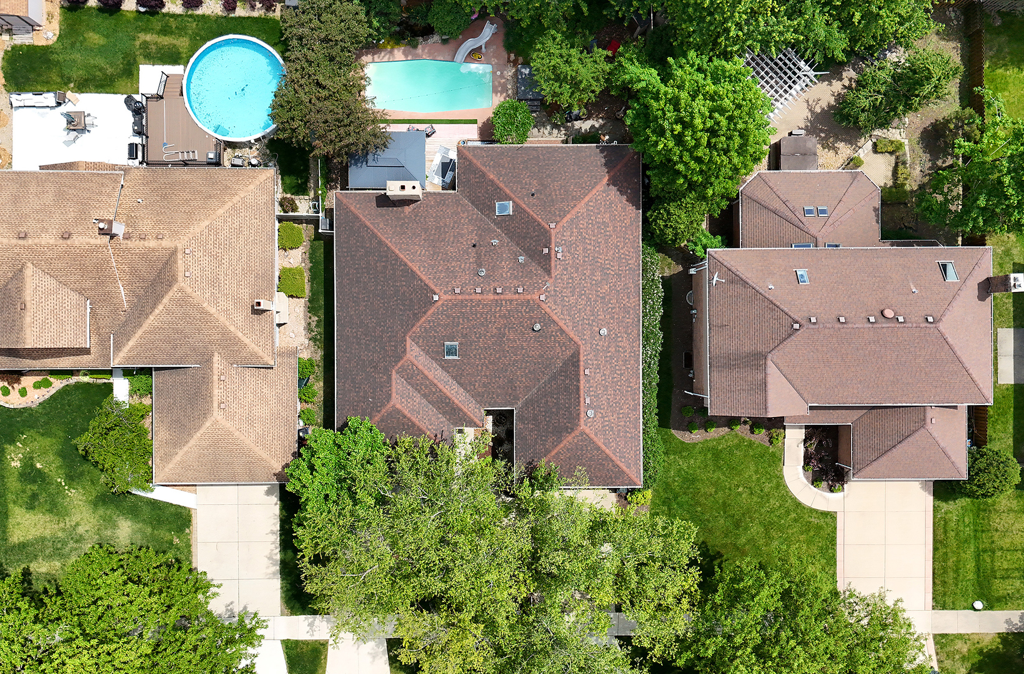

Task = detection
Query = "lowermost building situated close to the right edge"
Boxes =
[676,170,1024,482]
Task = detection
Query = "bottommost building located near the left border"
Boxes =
[0,161,301,486]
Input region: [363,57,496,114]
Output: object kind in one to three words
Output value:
swimming pool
